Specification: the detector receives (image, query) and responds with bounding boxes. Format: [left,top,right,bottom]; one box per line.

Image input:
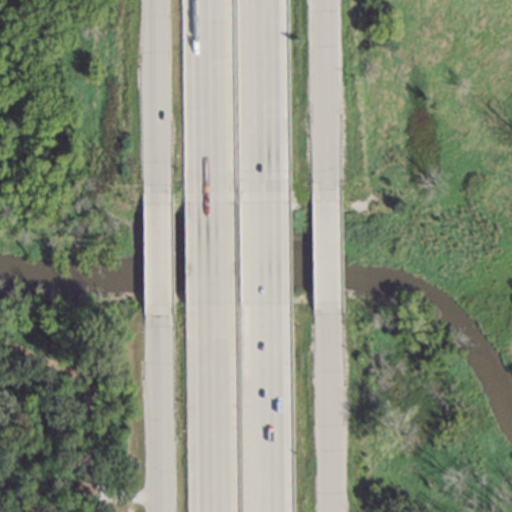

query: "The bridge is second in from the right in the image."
[240,192,292,306]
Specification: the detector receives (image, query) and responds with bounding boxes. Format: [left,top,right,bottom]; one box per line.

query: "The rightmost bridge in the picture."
[312,191,344,311]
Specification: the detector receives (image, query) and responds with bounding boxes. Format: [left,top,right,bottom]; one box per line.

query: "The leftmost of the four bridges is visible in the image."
[144,190,176,317]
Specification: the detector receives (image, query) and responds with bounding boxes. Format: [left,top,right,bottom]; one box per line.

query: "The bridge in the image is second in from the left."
[184,192,236,306]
